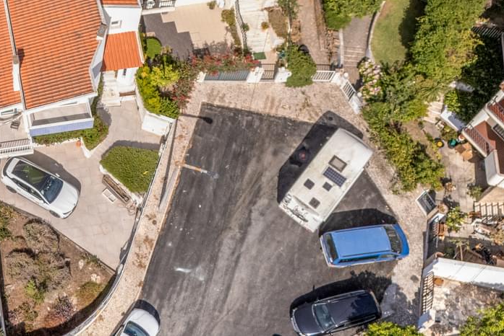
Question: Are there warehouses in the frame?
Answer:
No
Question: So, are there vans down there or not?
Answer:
Yes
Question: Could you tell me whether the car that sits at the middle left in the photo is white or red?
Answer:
white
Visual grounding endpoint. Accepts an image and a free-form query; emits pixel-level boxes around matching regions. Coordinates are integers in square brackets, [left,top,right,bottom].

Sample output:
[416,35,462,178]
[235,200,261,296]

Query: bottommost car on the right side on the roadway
[286,285,388,336]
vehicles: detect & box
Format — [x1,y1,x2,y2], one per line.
[286,285,388,336]
[106,302,162,336]
[314,219,412,274]
[272,129,374,235]
[0,153,79,219]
